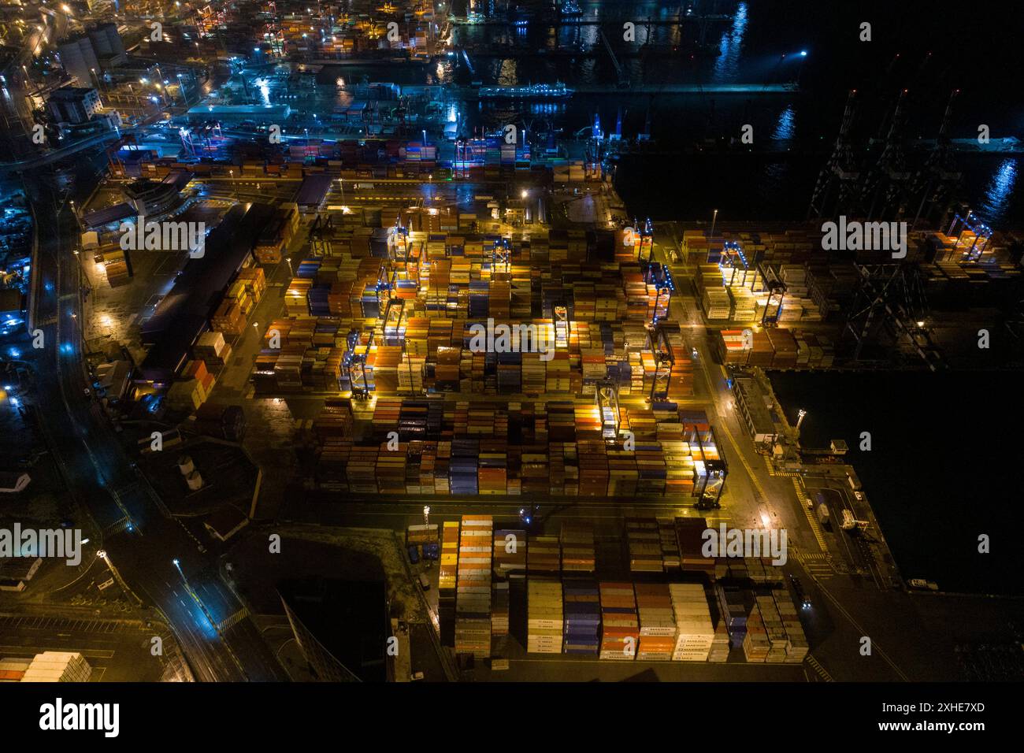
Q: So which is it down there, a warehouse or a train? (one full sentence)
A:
This aerial view contains a warehouse.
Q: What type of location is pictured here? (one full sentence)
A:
What you see here is a port.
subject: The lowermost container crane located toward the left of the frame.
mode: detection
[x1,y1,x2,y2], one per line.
[344,332,376,398]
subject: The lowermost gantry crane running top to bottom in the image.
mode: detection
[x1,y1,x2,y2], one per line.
[695,422,736,506]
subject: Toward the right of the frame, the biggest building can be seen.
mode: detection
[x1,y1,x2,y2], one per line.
[733,371,780,443]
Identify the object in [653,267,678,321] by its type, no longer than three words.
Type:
container crane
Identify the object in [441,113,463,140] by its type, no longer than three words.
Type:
shed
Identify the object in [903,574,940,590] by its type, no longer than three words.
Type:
boat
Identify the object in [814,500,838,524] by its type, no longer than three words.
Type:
truck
